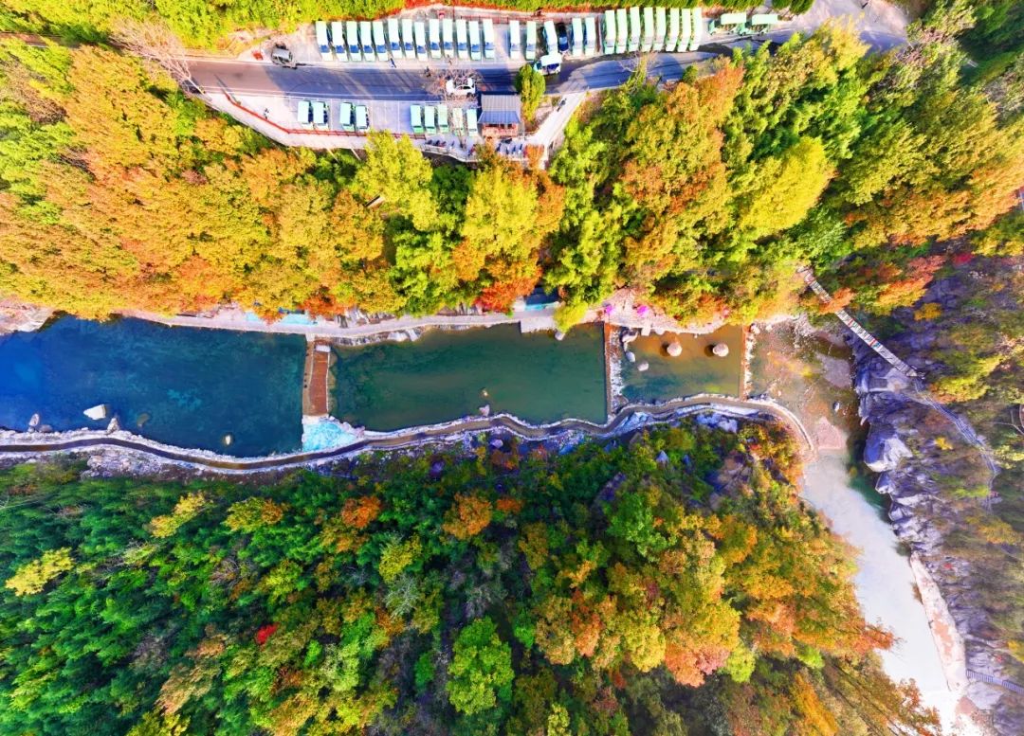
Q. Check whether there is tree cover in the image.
Yes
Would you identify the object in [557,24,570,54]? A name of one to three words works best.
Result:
vehicle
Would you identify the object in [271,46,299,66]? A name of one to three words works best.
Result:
car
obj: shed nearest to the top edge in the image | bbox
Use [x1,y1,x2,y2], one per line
[479,95,523,138]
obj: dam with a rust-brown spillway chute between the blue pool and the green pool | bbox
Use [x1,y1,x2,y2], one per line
[302,337,337,416]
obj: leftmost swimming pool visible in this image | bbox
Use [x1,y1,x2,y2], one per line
[0,316,304,458]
